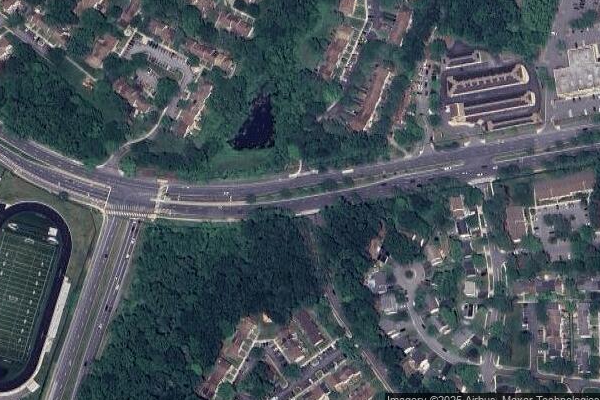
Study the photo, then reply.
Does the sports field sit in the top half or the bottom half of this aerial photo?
bottom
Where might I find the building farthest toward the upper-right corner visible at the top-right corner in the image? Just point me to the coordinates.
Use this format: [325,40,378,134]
[554,44,600,100]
